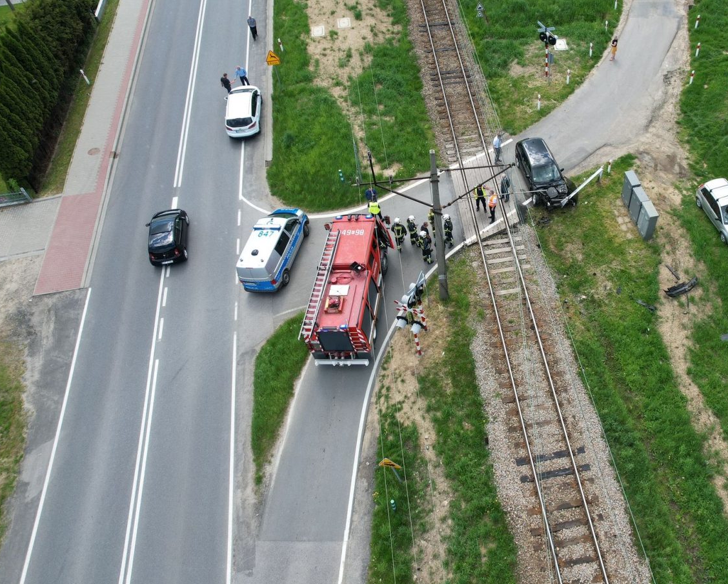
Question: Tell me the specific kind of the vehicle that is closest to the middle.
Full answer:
Specifically, the vehicle that is closest to the middle is a truck.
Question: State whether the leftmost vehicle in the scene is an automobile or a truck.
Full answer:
It turns out the leftmost vehicle is an automobile.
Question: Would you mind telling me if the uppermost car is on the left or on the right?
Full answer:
You can find the uppermost car on the left side of the picture.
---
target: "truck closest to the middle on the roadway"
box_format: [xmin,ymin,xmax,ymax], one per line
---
[298,214,402,374]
